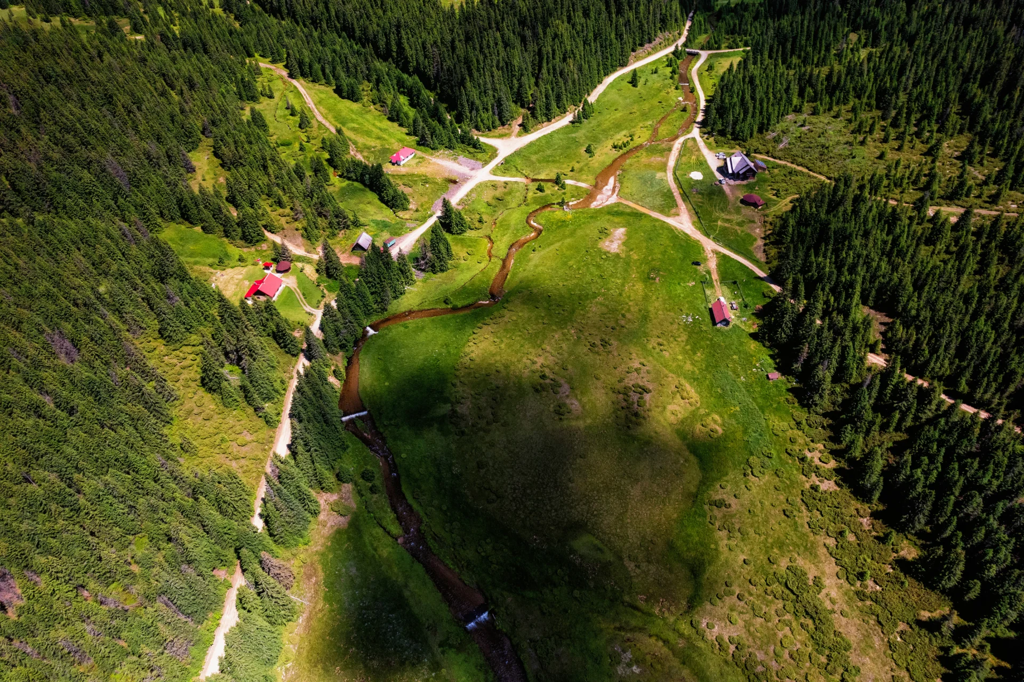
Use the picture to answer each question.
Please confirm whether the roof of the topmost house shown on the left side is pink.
Yes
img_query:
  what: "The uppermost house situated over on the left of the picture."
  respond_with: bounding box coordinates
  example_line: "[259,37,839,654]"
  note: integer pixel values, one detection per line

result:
[388,143,417,165]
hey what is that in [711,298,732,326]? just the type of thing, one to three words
building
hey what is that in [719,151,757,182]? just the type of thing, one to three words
building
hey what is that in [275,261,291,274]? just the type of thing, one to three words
gazebo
